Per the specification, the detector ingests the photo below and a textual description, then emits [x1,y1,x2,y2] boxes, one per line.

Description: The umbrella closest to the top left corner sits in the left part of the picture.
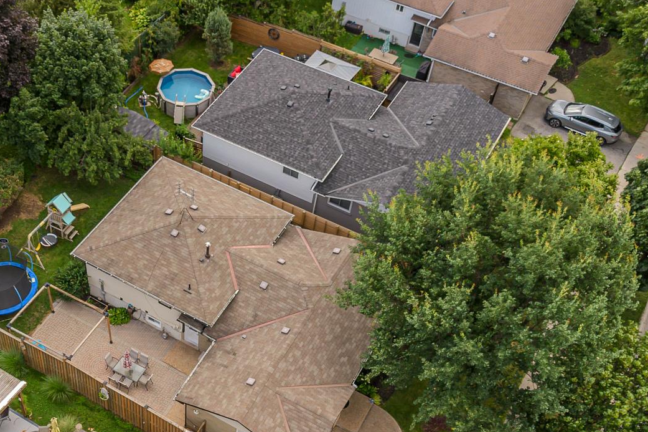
[149,61,174,81]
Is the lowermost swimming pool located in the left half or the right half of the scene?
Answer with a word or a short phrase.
left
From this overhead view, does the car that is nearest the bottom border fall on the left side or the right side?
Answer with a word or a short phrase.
right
